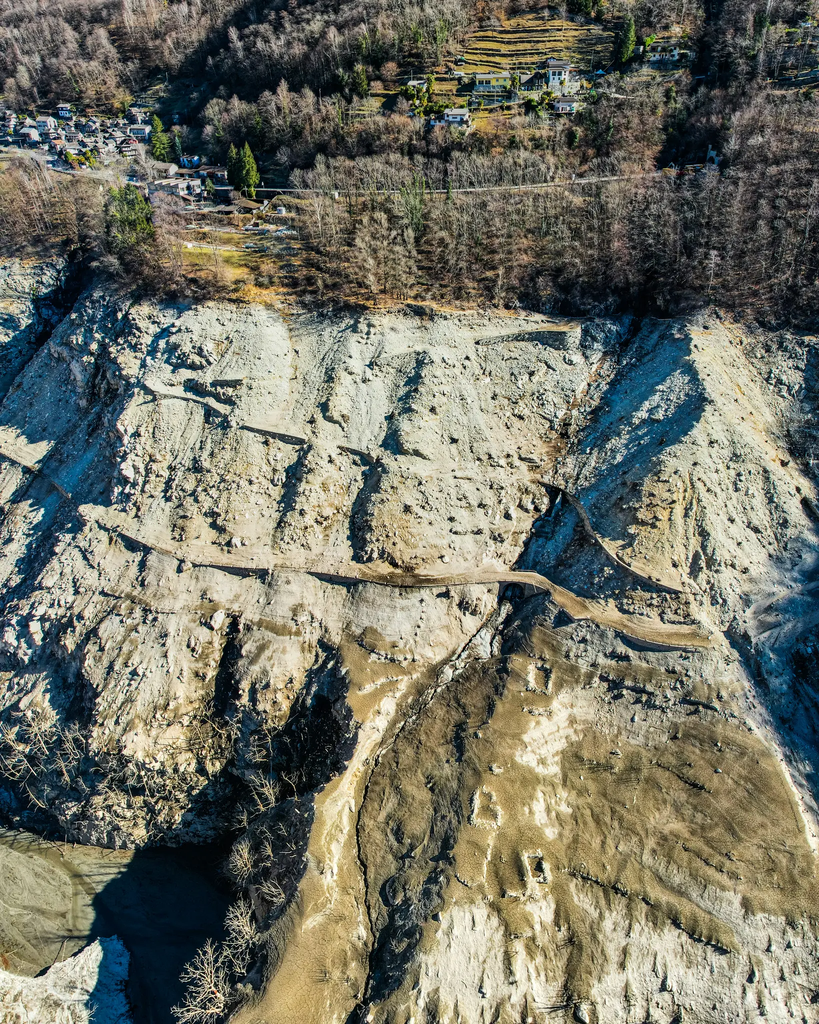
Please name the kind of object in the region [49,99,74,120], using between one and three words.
house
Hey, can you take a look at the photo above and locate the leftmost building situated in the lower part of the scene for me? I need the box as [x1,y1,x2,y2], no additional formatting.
[471,783,508,836]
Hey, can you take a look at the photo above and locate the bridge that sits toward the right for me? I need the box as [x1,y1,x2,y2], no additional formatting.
[484,566,543,607]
